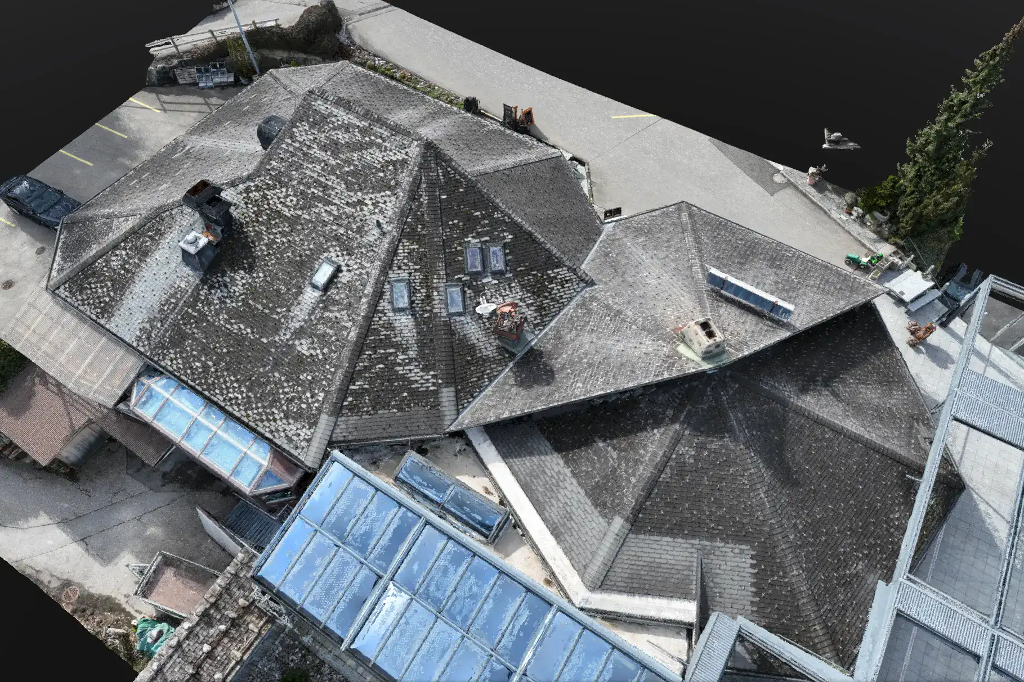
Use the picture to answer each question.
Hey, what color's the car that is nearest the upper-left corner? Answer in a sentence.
From above, the car that is nearest the upper-left corner appears black.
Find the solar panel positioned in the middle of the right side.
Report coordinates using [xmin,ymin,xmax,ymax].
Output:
[706,269,795,323]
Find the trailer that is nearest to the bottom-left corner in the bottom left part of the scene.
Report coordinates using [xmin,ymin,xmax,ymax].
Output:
[125,553,220,620]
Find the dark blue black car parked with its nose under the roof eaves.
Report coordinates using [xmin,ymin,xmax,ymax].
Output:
[0,170,79,236]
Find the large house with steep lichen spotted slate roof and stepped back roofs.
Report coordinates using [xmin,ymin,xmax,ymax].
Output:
[45,58,604,473]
